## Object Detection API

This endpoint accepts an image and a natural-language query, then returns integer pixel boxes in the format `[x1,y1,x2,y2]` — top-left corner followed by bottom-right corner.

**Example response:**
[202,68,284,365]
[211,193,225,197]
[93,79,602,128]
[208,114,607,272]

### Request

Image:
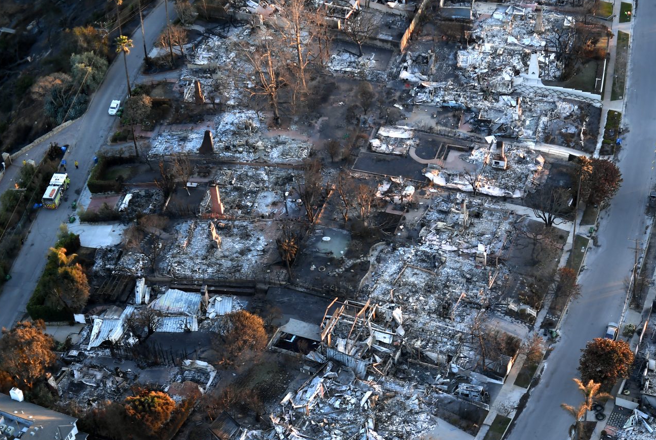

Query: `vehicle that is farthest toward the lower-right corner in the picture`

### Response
[603,319,623,342]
